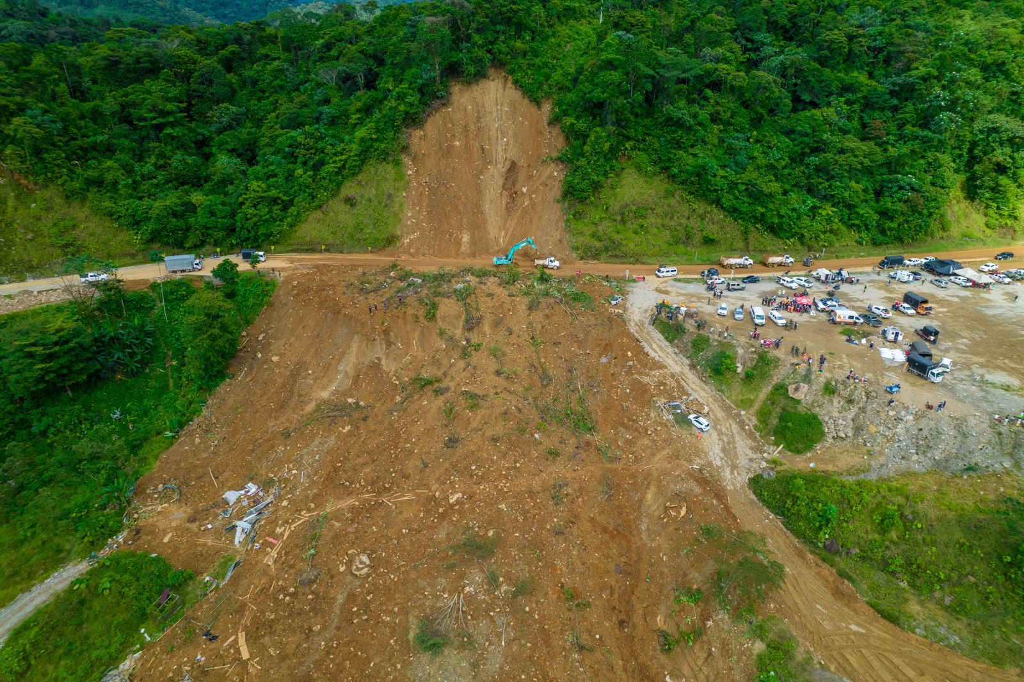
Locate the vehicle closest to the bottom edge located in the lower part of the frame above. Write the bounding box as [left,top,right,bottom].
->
[686,415,711,431]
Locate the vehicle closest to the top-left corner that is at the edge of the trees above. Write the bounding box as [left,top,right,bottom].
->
[77,270,109,283]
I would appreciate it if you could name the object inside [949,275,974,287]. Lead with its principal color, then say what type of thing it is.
white vehicle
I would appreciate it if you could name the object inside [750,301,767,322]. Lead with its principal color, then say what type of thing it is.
white vehicle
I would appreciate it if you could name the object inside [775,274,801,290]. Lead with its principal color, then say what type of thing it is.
white car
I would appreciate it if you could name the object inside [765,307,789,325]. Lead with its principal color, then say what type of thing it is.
white car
